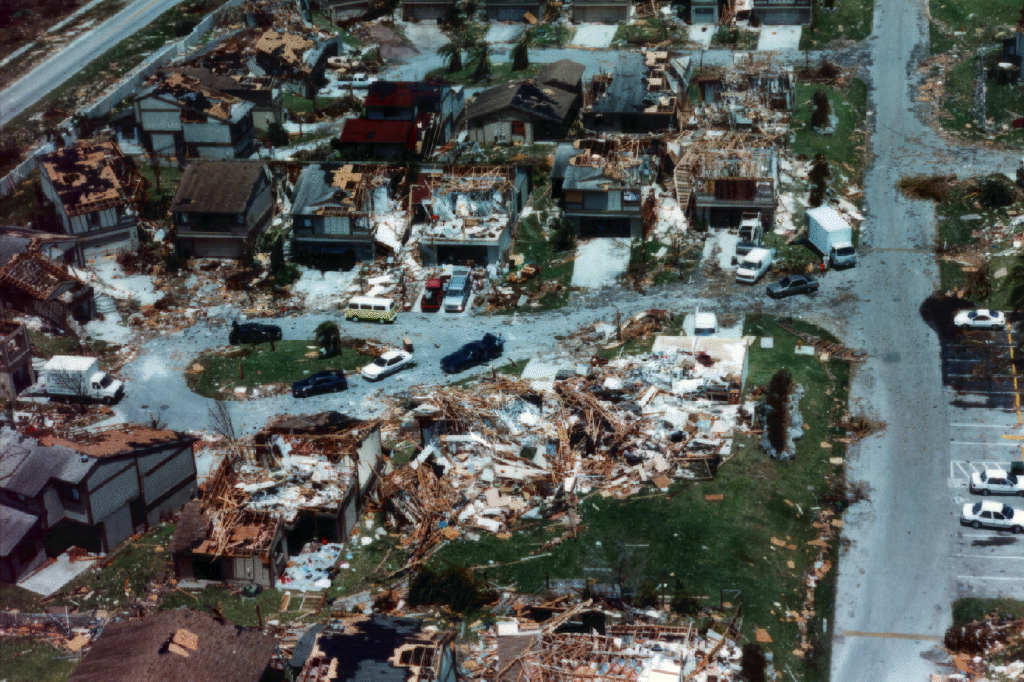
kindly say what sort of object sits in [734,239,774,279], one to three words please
van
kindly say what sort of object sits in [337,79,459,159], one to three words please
house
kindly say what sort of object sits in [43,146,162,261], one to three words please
house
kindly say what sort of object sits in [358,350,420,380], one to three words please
car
